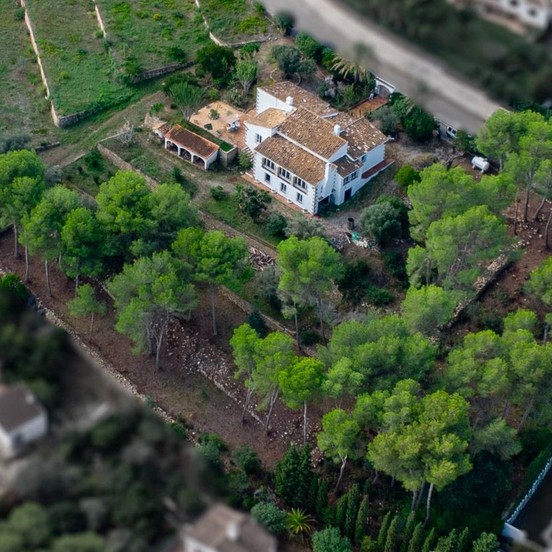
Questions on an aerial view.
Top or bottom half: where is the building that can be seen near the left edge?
bottom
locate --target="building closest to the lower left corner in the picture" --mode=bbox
[0,385,49,444]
